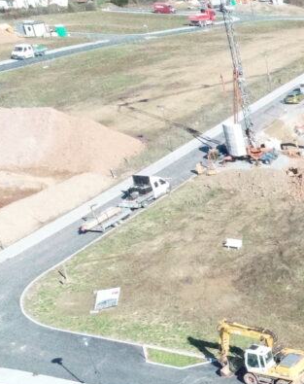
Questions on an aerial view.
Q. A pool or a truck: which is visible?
truck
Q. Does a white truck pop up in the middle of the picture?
Yes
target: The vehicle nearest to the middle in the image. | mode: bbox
[115,166,171,203]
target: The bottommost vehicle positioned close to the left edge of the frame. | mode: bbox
[14,44,54,59]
